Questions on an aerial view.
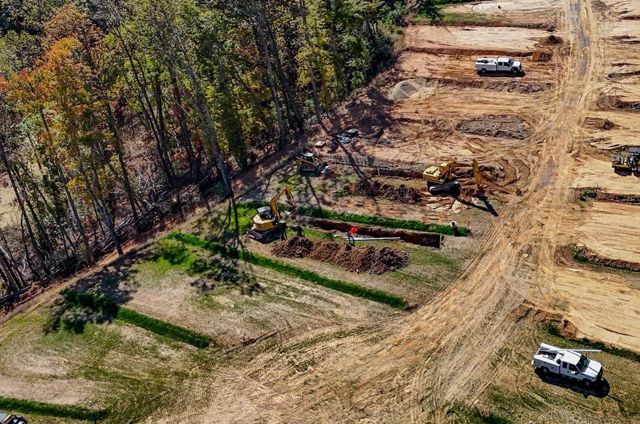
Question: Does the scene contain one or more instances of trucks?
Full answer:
Yes, the photo shows a truck.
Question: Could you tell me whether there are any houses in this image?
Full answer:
No, I can see no house in this picture.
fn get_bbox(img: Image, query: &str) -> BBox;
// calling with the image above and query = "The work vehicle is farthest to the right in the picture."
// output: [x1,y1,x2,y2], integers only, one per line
[609,138,640,168]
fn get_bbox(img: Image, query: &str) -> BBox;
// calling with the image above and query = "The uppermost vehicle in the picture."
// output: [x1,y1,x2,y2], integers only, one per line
[474,52,523,70]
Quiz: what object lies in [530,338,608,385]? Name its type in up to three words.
truck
